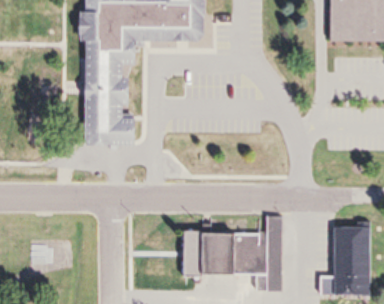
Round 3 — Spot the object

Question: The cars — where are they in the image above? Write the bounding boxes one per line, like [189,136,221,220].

[186,72,192,84]
[229,84,235,96]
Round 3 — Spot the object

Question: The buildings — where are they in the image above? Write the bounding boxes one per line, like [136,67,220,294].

[320,226,372,294]
[79,0,206,144]
[330,0,384,40]
[184,216,282,290]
